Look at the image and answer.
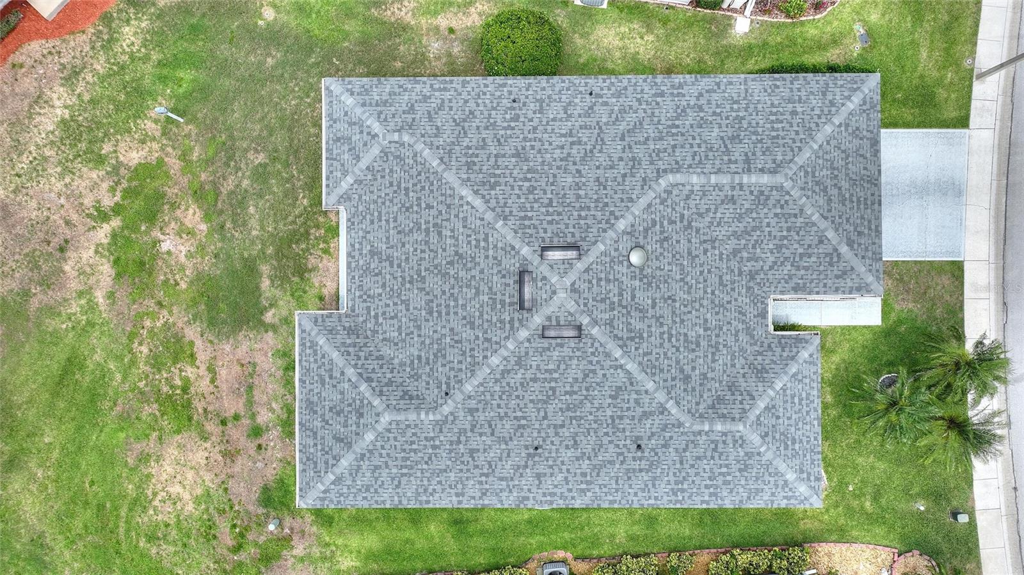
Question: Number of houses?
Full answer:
There is 1 house in the image.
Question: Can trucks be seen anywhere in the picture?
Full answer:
No, this view has no truck in it.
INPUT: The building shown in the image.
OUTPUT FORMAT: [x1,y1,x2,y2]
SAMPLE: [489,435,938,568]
[293,72,883,510]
